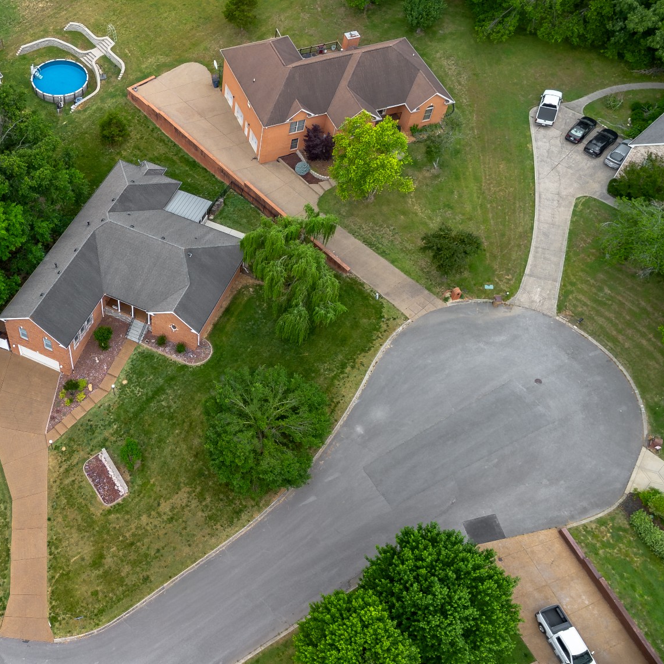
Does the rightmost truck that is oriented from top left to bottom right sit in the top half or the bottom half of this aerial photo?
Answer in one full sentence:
The bottom half of the photo is where the rightmost truck that is oriented from top left to bottom right is.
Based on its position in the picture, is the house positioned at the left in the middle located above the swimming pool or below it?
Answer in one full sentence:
The house positioned at the left in the middle appears below the swimming pool in the picture.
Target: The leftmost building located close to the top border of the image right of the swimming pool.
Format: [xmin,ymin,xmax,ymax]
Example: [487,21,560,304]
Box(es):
[220,29,455,160]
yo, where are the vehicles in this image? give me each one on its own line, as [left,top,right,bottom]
[604,136,634,170]
[581,126,623,159]
[534,88,563,129]
[563,115,600,145]
[535,601,597,664]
